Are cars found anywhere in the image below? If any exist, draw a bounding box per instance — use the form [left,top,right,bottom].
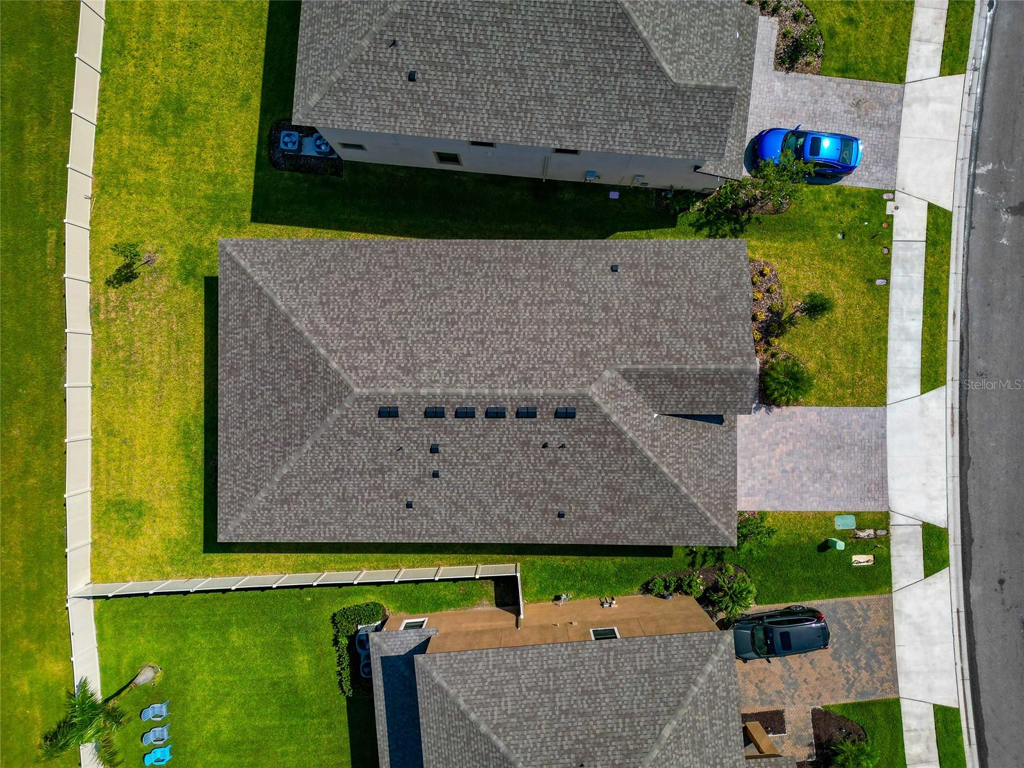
[751,125,862,180]
[719,603,830,662]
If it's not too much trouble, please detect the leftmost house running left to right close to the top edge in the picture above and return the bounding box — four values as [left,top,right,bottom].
[292,0,758,192]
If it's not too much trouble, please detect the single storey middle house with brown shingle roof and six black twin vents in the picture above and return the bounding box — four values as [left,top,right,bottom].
[218,239,760,547]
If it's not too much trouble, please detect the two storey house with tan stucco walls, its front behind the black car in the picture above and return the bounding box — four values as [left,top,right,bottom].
[369,596,798,768]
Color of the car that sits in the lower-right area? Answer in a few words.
black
